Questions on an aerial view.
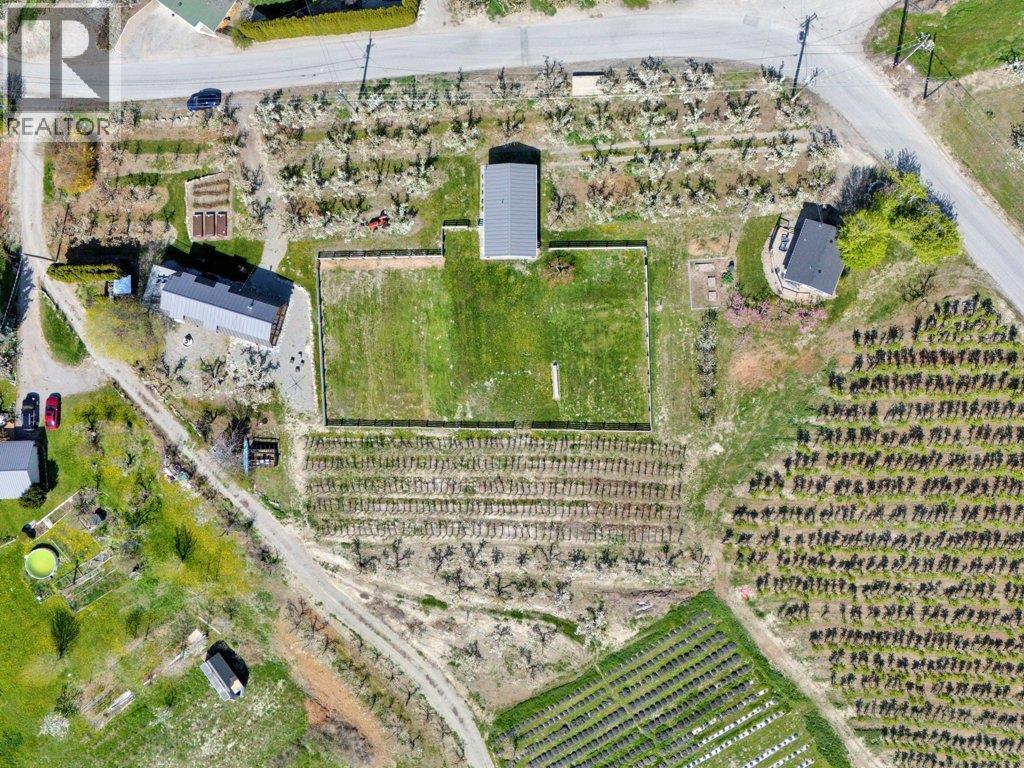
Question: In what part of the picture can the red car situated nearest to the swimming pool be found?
left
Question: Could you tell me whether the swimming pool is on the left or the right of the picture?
left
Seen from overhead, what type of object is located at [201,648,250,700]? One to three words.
shed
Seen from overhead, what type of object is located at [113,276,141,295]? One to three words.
shed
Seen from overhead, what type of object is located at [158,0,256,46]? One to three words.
building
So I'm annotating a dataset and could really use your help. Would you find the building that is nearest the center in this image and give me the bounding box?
[485,162,537,256]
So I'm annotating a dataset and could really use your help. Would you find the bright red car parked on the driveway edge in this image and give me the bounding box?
[46,394,66,428]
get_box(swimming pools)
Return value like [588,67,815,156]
[26,545,61,578]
